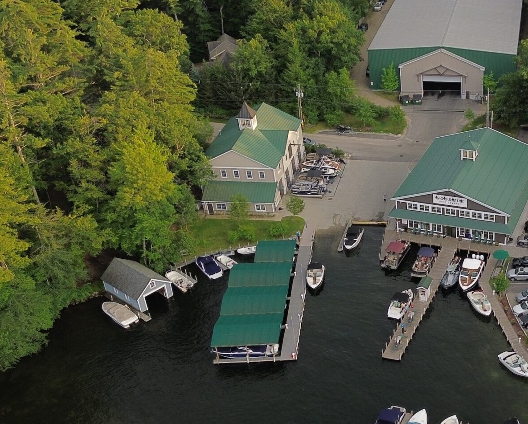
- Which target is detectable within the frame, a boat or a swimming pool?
boat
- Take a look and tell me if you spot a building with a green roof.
Yes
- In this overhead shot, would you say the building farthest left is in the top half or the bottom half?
bottom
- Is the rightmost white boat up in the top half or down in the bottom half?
bottom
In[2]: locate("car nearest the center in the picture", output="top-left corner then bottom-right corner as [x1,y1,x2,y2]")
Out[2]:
[302,136,323,148]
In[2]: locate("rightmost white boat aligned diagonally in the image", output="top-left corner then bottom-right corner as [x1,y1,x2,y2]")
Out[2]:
[493,351,528,378]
